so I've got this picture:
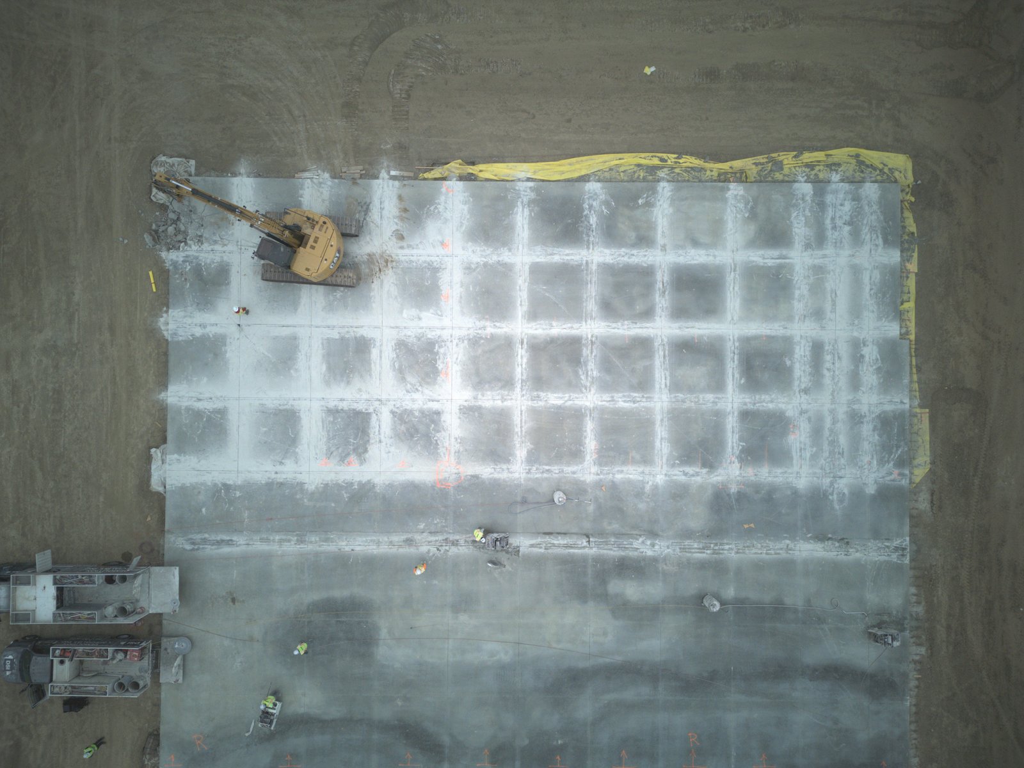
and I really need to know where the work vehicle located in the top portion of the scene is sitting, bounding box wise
[149,167,364,285]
